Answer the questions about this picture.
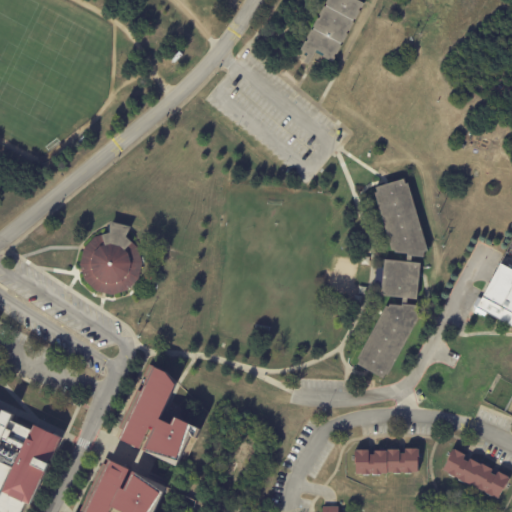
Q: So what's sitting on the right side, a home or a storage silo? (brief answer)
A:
home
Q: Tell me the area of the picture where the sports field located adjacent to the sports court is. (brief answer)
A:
center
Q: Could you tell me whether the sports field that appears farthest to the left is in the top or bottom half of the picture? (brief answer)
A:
top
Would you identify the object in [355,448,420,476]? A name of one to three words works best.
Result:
house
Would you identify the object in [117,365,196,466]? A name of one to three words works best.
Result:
building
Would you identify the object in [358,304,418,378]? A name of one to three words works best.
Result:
building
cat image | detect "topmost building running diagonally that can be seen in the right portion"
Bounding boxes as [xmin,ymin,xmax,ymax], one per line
[302,0,366,63]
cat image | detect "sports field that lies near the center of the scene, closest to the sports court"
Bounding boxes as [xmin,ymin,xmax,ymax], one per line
[234,197,336,353]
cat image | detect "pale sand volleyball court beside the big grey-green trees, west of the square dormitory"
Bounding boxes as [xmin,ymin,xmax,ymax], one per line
[330,256,358,283]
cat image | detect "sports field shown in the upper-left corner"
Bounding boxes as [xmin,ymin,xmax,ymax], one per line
[0,0,106,130]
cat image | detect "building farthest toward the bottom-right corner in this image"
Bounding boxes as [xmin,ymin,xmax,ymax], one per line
[444,448,510,498]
